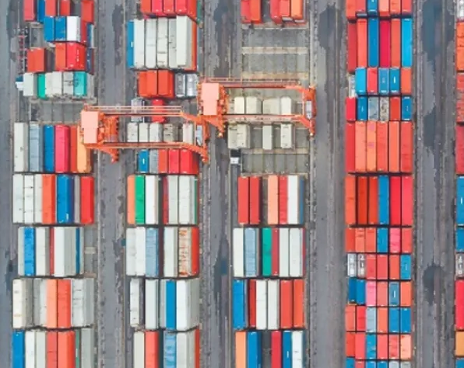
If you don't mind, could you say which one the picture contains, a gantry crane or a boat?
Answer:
gantry crane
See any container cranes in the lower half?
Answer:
No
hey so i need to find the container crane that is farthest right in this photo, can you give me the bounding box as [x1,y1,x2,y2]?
[196,78,317,137]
